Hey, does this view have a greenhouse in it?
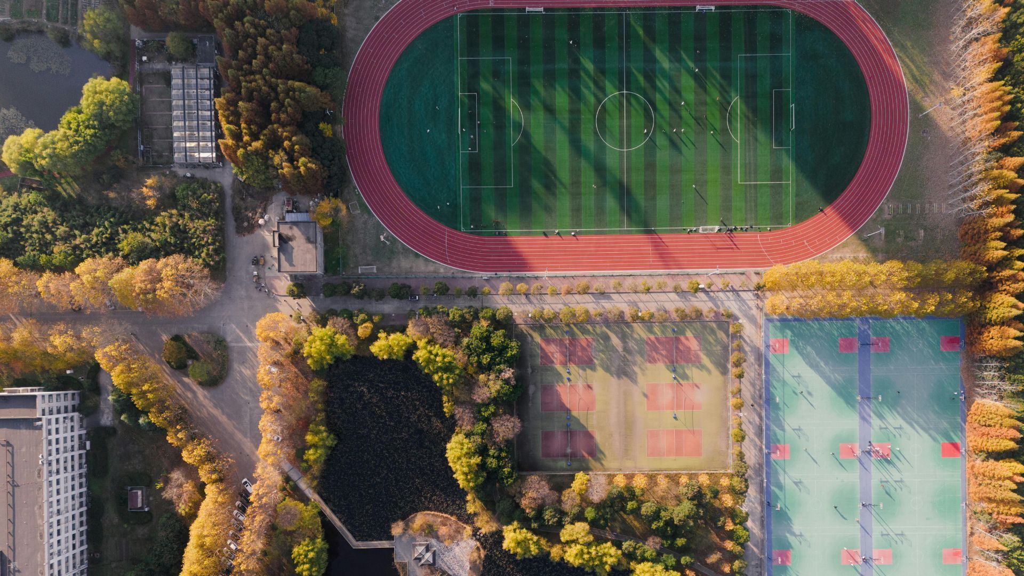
Yes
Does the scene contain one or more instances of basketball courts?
Yes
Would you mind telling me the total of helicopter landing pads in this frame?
0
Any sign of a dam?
No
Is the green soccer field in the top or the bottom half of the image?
top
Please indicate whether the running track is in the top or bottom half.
top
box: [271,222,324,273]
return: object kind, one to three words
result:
house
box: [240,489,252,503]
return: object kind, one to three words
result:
vehicle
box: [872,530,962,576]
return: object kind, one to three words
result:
basketball court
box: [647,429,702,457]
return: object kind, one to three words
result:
sports court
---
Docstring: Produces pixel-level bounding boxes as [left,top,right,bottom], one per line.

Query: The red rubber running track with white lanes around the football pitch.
[341,0,909,274]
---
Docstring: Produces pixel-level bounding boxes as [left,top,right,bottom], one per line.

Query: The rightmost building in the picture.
[412,539,437,566]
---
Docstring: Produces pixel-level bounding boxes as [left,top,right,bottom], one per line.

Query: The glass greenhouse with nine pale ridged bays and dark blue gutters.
[172,66,222,166]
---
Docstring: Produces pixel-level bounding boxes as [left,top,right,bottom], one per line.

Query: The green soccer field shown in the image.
[379,5,871,236]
